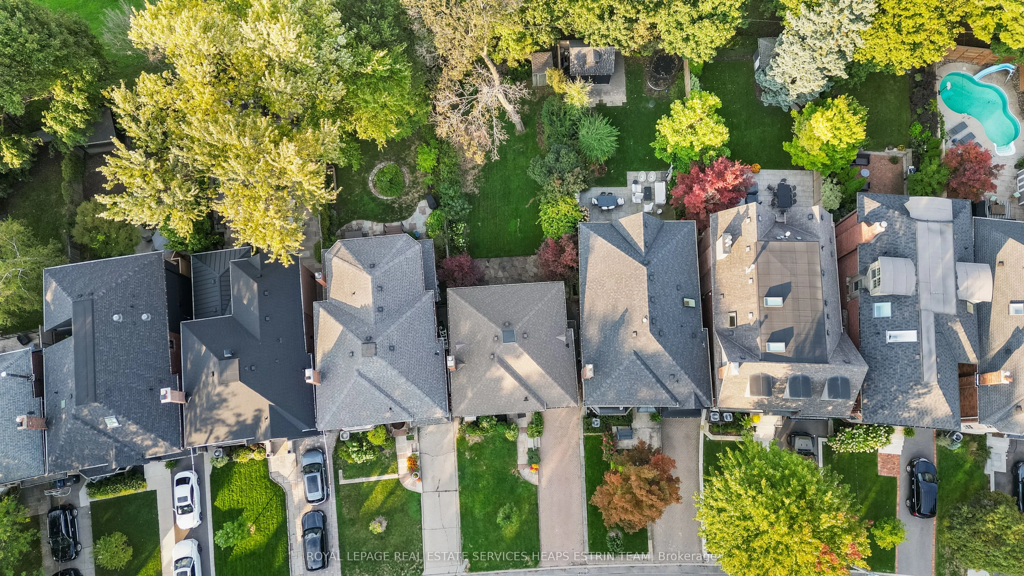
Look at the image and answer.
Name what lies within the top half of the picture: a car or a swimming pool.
swimming pool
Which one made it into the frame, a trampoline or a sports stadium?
trampoline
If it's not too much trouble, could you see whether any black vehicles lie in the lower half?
Yes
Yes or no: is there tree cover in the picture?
Yes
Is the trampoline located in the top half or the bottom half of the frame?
top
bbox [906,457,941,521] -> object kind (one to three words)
car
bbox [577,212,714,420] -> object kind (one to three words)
house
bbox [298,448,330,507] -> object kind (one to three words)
car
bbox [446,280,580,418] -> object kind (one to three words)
house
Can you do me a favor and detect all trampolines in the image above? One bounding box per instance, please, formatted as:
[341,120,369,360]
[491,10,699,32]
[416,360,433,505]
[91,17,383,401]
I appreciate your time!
[645,54,677,90]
